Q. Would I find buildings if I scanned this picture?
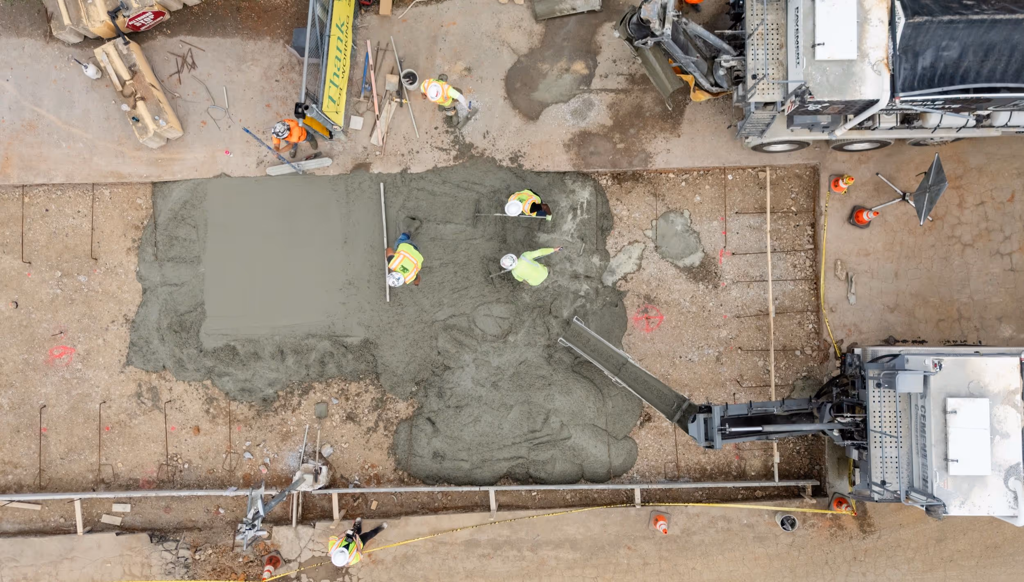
No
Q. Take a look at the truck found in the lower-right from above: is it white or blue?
white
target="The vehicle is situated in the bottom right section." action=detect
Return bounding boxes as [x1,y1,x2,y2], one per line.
[561,315,1024,531]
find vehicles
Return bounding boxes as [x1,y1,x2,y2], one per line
[613,0,1024,151]
[561,315,1024,531]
